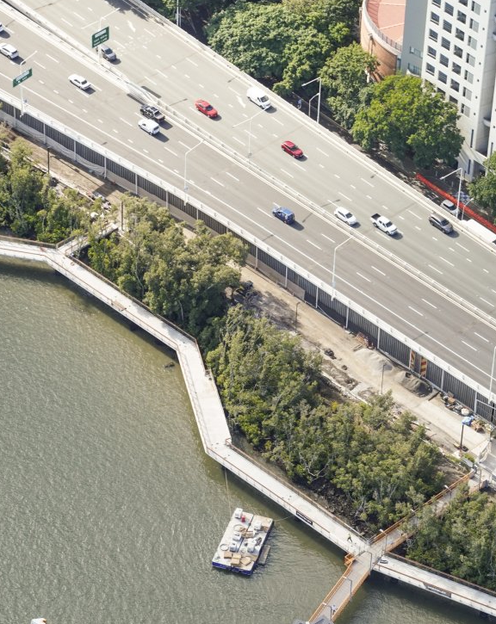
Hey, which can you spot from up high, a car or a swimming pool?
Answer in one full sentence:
Looking from above, you can make out a car.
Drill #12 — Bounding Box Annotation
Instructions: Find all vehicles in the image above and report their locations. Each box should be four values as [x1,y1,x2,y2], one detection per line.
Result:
[367,213,396,234]
[424,212,450,232]
[134,117,158,135]
[136,103,163,123]
[193,99,215,116]
[0,42,16,58]
[93,43,116,59]
[278,139,301,157]
[437,198,461,216]
[66,74,89,91]
[267,205,292,223]
[243,86,268,107]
